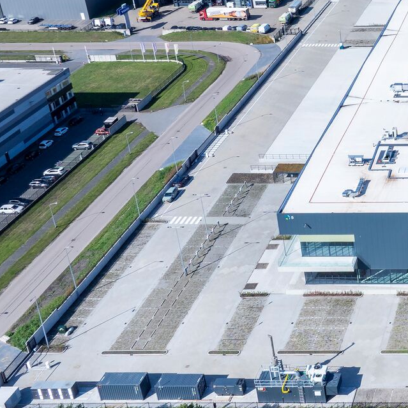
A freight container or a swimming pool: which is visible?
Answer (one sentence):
Of the two, only a freight container appears.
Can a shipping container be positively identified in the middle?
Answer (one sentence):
No, there is no shipping container in the middle.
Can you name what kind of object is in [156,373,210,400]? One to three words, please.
shipping container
